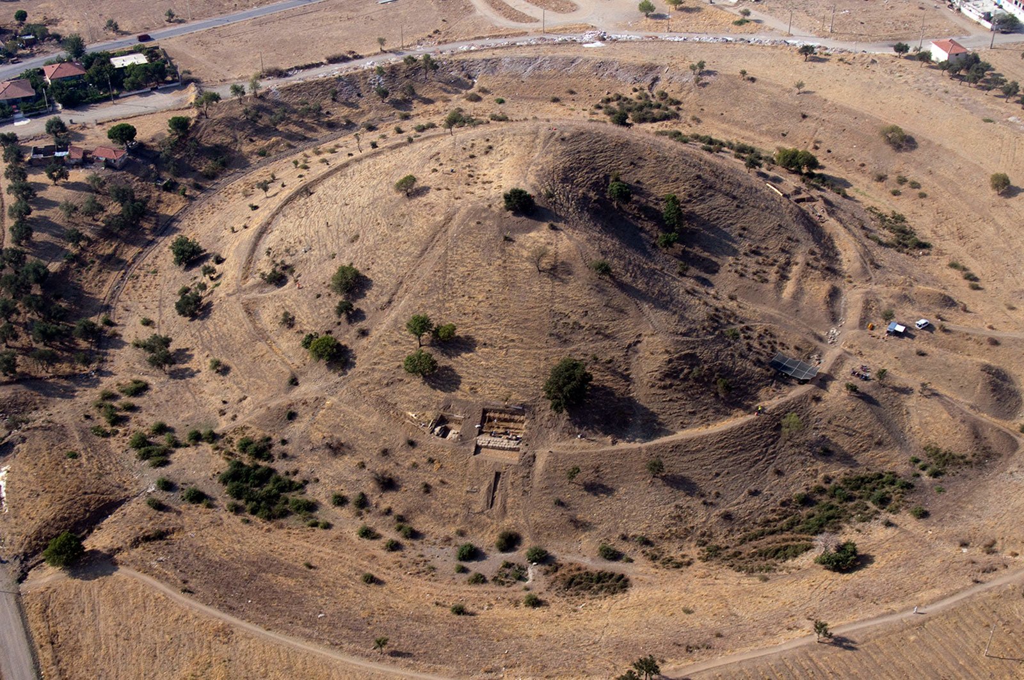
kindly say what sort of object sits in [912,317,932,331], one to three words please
vehicle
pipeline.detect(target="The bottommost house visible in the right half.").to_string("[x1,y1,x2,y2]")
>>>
[931,36,966,63]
